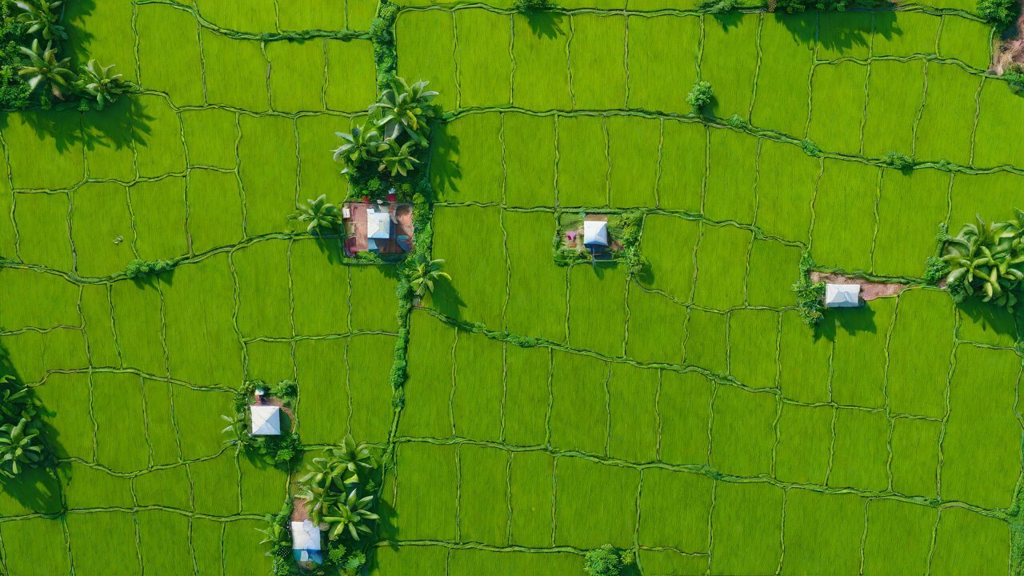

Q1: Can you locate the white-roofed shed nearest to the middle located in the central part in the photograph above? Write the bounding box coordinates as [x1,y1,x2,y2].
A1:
[584,221,608,248]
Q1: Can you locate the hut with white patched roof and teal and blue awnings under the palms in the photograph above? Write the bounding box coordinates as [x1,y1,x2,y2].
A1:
[292,521,323,563]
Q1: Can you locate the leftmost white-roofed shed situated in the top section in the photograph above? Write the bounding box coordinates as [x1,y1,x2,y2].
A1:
[367,209,389,249]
